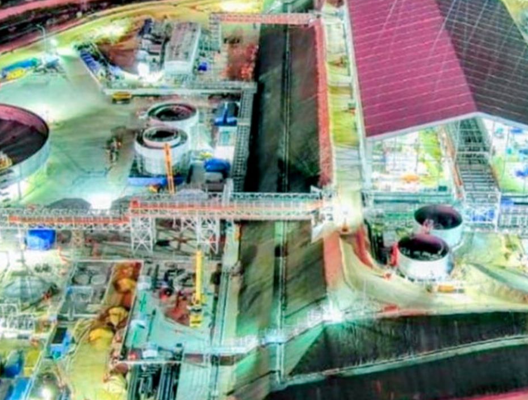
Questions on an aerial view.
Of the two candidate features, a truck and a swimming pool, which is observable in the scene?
truck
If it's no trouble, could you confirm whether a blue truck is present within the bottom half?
Yes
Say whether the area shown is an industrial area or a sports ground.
industrial area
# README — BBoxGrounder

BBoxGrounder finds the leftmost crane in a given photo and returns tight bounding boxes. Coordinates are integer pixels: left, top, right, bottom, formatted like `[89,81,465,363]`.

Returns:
[152,131,181,207]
